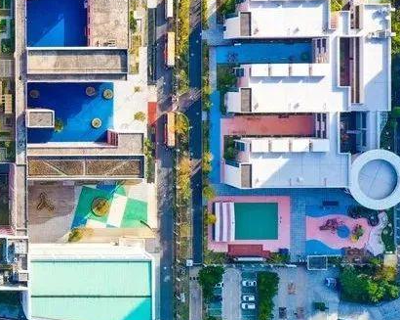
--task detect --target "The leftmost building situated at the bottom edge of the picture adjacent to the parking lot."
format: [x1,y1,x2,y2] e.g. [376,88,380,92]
[26,242,155,320]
